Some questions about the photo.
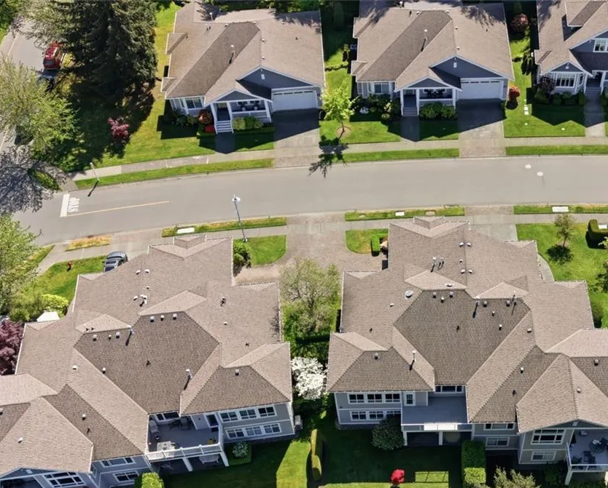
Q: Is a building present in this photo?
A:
Yes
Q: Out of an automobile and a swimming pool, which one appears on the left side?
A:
automobile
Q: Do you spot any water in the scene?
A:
No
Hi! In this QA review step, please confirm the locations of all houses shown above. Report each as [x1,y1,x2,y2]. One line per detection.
[159,0,328,130]
[0,234,294,488]
[323,216,608,479]
[534,0,608,98]
[350,0,515,116]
